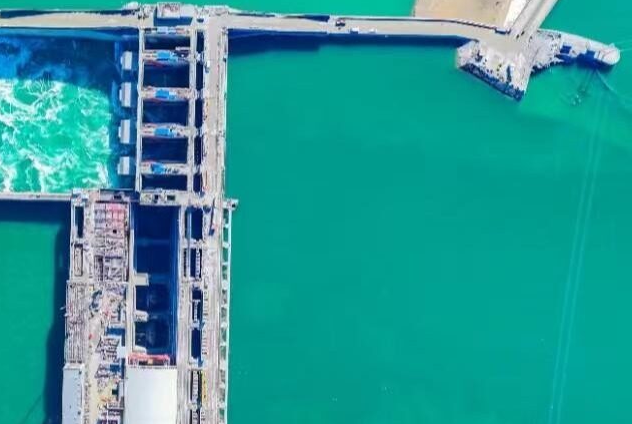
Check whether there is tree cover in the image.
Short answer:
No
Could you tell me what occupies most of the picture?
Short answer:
water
